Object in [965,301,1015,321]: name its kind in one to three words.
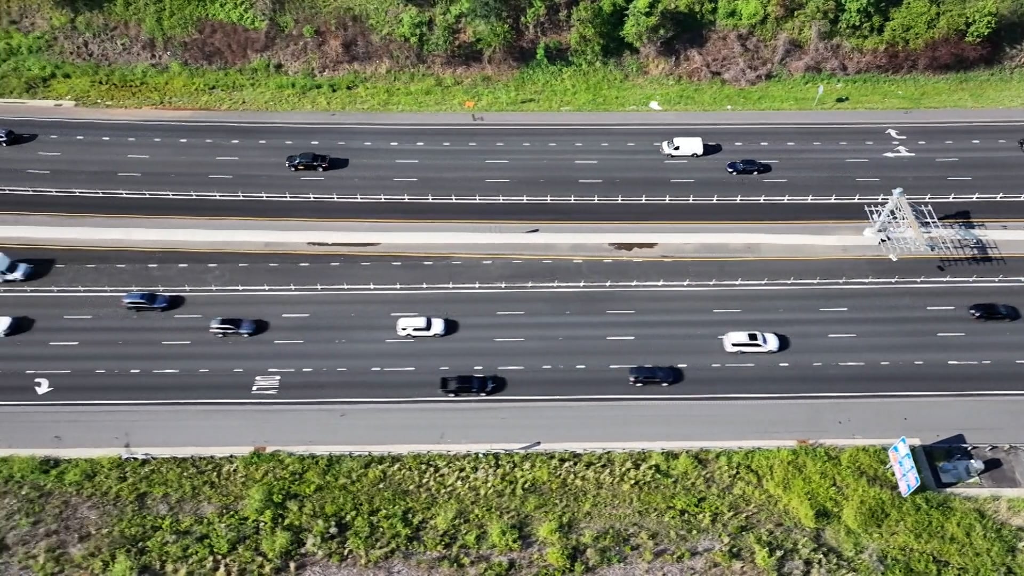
car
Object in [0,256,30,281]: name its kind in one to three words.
vehicle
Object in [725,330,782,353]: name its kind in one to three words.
car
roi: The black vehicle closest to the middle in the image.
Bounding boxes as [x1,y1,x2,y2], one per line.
[437,373,492,397]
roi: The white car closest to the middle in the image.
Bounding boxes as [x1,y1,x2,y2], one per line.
[398,315,446,338]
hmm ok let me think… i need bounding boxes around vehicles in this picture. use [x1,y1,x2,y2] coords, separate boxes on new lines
[0,317,15,336]
[437,373,492,397]
[965,301,1015,321]
[726,159,764,174]
[725,330,782,353]
[120,291,168,312]
[627,363,674,386]
[398,315,446,338]
[0,256,30,281]
[661,137,705,157]
[208,315,256,337]
[284,152,331,171]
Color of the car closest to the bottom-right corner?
black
